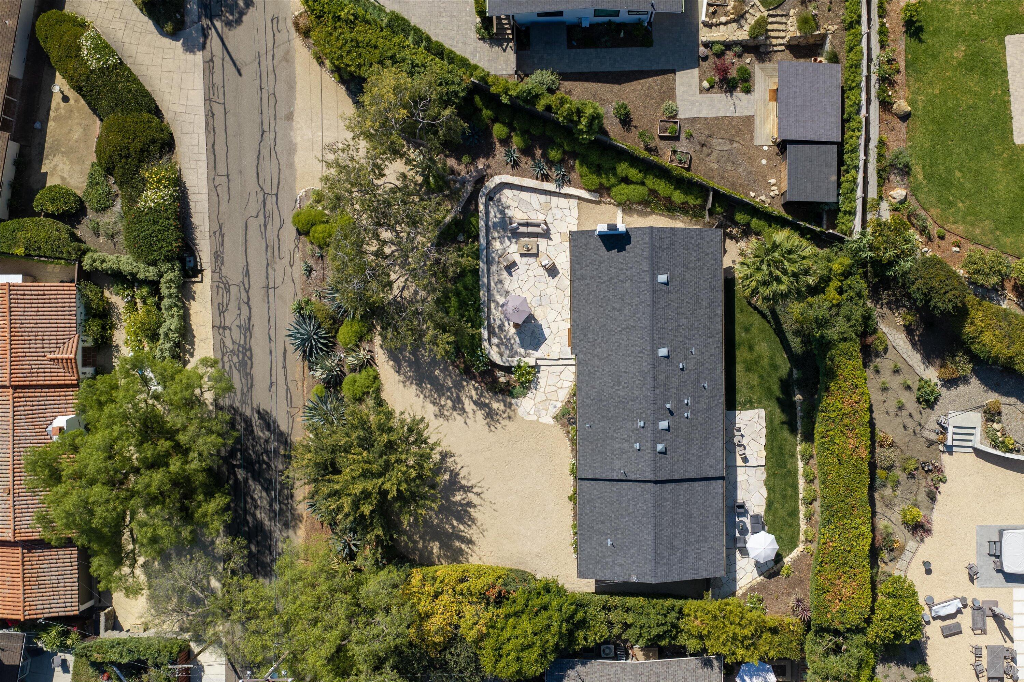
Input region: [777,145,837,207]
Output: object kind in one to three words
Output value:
shed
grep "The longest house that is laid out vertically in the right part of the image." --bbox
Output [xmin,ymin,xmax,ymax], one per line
[568,222,726,585]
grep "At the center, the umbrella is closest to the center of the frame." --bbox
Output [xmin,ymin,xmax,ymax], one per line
[500,293,531,325]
